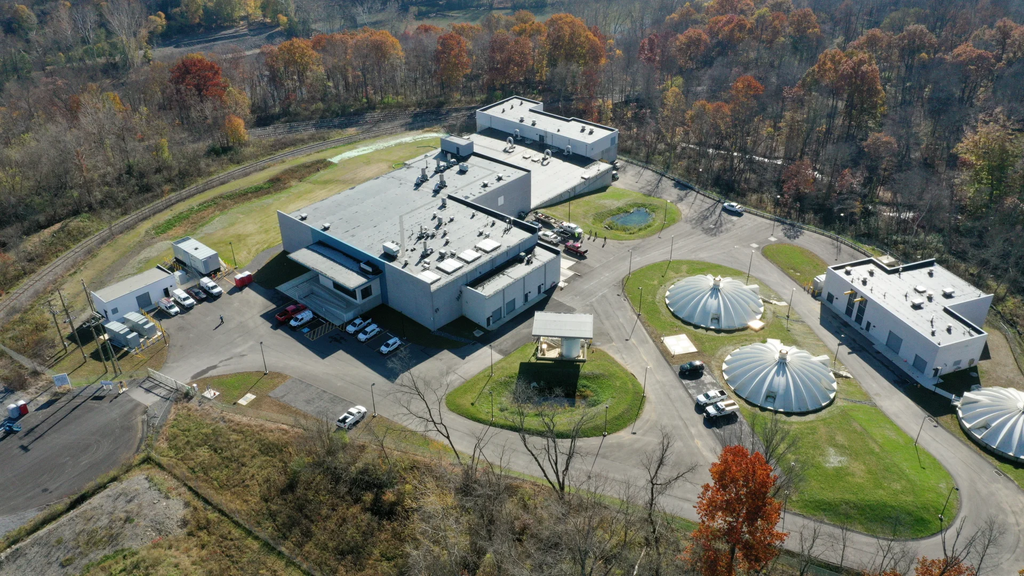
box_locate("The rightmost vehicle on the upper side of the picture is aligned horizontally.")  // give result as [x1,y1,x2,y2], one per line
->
[720,202,748,215]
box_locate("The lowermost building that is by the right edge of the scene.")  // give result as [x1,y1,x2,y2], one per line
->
[822,258,995,377]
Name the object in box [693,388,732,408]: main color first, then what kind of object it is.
white vehicle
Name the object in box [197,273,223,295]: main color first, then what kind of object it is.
white truck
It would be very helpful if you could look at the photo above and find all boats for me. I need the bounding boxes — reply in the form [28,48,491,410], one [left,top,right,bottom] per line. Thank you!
[531,207,557,223]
